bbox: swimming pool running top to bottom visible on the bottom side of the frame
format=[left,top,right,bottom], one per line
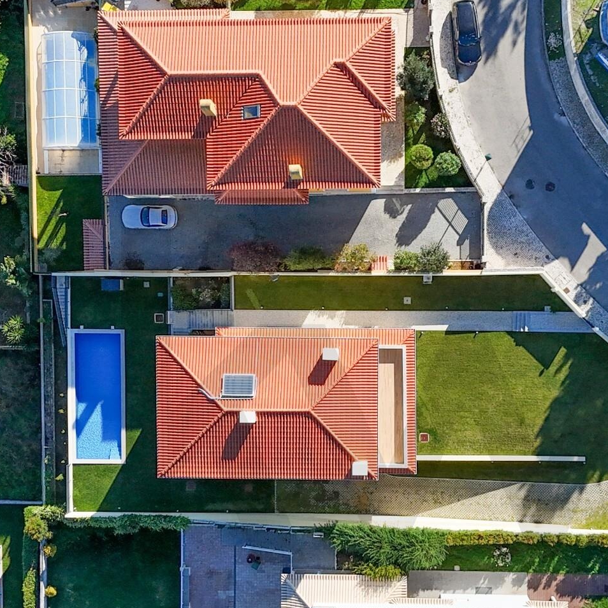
[70,328,127,465]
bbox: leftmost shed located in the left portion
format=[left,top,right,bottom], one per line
[81,217,119,272]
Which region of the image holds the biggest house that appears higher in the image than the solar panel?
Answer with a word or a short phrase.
top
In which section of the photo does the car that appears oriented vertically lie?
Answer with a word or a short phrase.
top right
